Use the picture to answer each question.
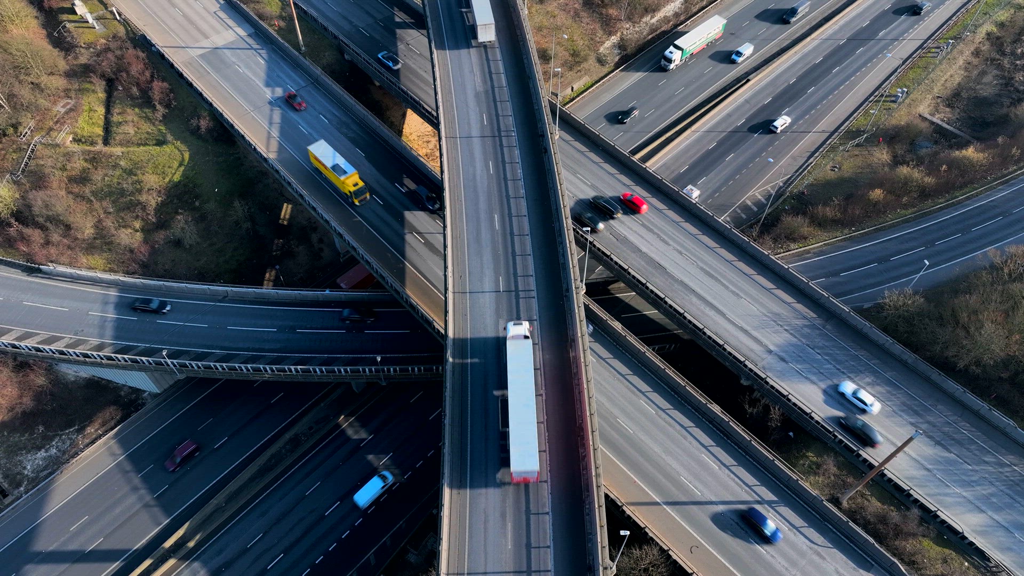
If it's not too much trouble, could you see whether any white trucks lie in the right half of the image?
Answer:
Yes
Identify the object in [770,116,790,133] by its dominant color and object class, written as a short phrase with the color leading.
white car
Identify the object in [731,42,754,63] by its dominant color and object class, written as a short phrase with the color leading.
white vehicle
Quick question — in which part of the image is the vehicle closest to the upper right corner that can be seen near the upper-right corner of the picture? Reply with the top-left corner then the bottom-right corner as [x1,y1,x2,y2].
[912,2,929,15]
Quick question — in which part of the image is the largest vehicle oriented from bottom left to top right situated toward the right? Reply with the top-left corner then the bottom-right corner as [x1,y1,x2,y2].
[658,17,722,74]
